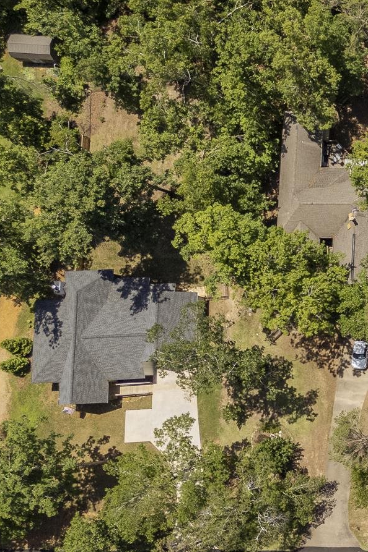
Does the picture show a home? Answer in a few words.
Yes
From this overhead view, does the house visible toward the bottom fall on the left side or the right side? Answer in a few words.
left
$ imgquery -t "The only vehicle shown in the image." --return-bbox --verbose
[352,340,367,372]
